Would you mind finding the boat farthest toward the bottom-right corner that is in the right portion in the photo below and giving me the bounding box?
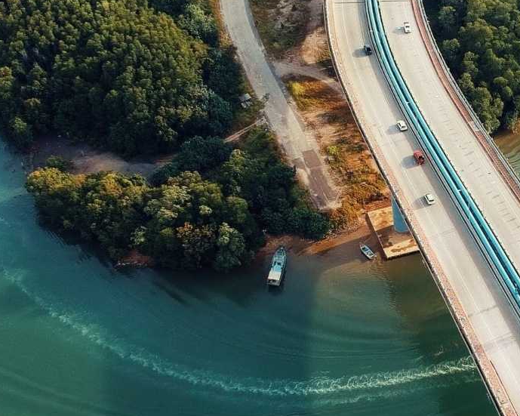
[361,244,377,261]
